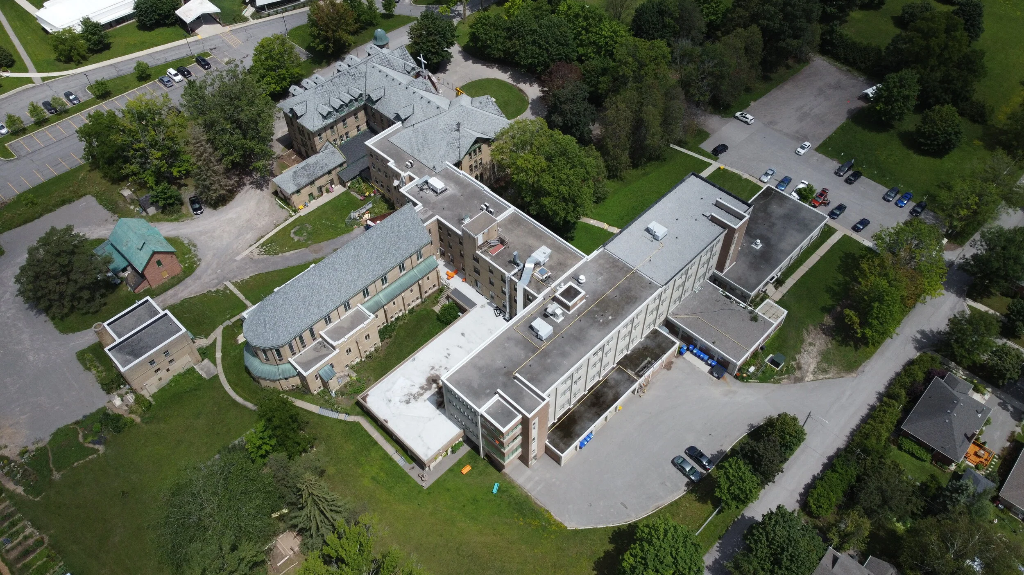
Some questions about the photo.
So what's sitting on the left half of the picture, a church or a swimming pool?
church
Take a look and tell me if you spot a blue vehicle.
Yes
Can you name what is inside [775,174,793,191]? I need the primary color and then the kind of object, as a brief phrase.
blue car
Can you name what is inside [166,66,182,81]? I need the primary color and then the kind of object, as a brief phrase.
white car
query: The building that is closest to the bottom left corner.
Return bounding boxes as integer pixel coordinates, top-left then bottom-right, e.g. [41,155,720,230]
[103,297,213,395]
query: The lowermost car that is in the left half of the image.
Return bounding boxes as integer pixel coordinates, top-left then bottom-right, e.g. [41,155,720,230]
[190,196,202,214]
